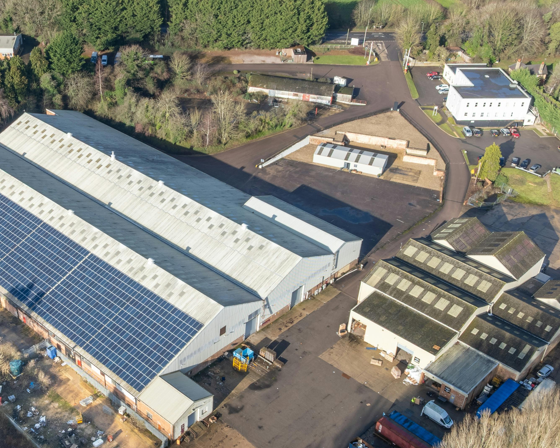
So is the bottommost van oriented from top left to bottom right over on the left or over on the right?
right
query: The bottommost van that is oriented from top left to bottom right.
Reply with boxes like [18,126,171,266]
[418,394,457,426]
